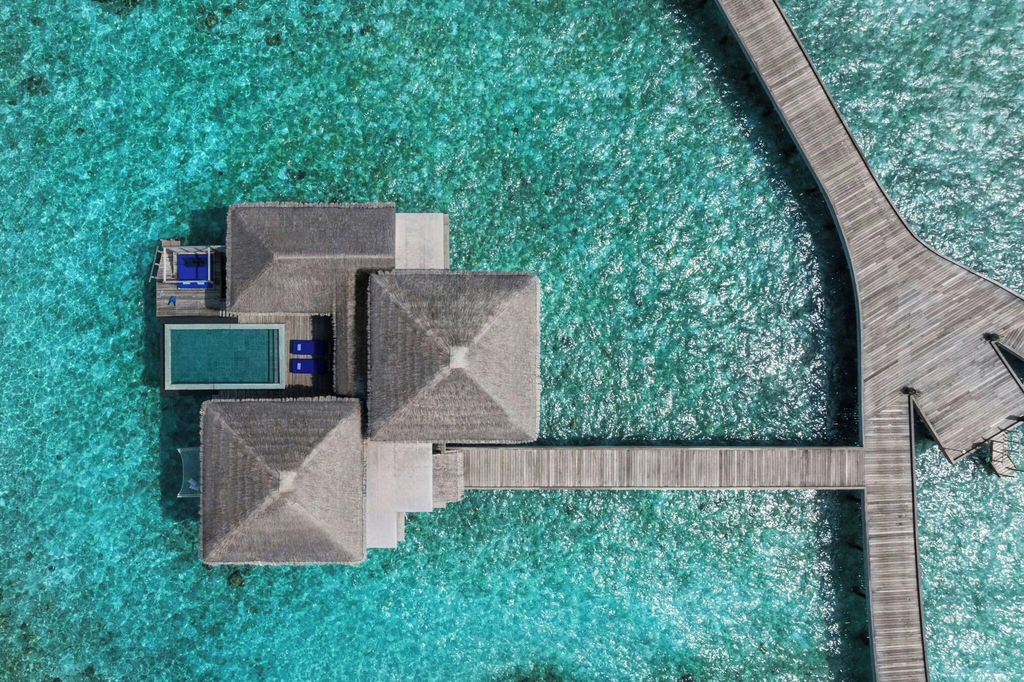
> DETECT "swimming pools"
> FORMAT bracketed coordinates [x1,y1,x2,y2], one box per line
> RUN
[160,317,286,396]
